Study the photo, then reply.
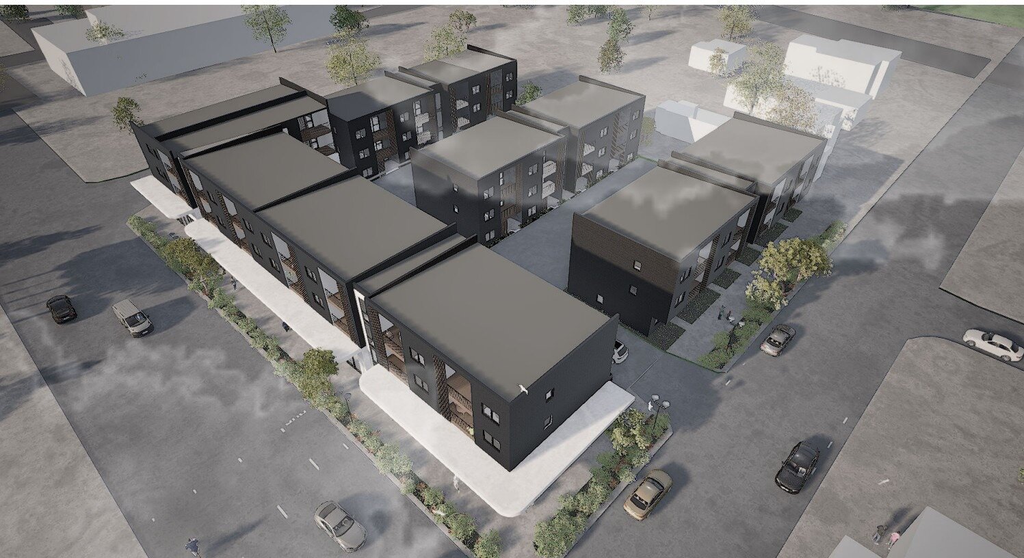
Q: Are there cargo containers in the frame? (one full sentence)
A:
No, there is no cargo container in the image.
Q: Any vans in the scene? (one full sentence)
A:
Yes, I can see a van in this picture.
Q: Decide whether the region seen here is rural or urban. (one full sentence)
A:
The area shown here is urban.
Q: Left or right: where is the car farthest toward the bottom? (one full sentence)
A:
The car farthest toward the bottom sits on the left side.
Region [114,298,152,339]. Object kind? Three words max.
van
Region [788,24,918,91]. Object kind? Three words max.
building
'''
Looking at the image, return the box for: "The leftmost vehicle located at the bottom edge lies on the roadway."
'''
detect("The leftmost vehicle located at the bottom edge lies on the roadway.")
[316,502,365,557]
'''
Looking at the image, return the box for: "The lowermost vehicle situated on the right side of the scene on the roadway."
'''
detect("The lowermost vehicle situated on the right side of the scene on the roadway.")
[624,472,670,522]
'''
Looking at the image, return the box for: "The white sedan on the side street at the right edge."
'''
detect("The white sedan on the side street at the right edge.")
[965,334,1024,367]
